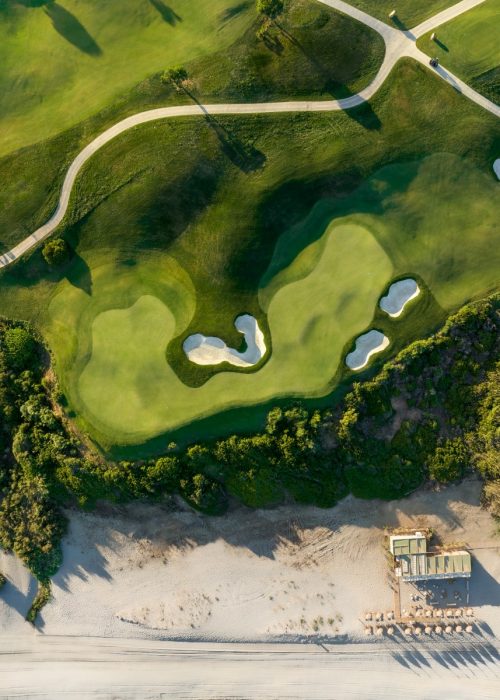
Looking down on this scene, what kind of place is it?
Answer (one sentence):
What you see here is a golf course.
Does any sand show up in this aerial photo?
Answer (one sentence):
Yes, some sand is visible.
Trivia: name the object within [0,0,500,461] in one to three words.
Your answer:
golf course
